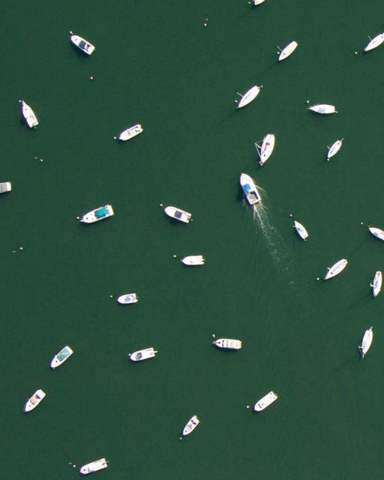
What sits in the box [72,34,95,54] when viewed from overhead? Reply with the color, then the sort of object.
white boat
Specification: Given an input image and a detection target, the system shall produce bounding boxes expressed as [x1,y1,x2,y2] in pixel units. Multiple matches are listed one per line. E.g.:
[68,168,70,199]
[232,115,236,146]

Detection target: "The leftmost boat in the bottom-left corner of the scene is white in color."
[24,388,46,412]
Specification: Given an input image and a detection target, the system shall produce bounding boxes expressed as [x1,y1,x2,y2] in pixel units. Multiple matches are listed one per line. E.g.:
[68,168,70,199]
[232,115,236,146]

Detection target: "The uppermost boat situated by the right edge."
[364,32,384,51]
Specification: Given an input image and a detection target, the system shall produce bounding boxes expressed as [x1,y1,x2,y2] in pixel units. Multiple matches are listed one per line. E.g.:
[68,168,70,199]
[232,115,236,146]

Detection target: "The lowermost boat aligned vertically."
[360,328,373,360]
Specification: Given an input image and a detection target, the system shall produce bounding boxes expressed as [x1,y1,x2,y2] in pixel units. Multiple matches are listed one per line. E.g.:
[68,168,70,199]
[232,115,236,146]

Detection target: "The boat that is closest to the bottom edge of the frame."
[79,458,108,474]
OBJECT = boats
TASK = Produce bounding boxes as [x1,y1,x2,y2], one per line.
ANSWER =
[164,206,194,223]
[212,338,242,349]
[295,221,309,241]
[119,122,143,139]
[239,172,259,205]
[364,32,384,51]
[130,348,156,361]
[278,39,299,61]
[328,137,344,158]
[309,103,340,113]
[72,34,95,54]
[254,390,280,410]
[24,388,46,412]
[21,99,39,127]
[51,345,74,367]
[182,256,205,265]
[360,328,373,360]
[373,271,383,296]
[117,294,142,303]
[79,458,108,474]
[370,227,384,239]
[237,84,262,108]
[324,258,348,279]
[183,413,202,435]
[258,131,277,164]
[78,204,116,222]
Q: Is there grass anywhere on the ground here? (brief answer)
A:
No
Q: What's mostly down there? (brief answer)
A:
water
